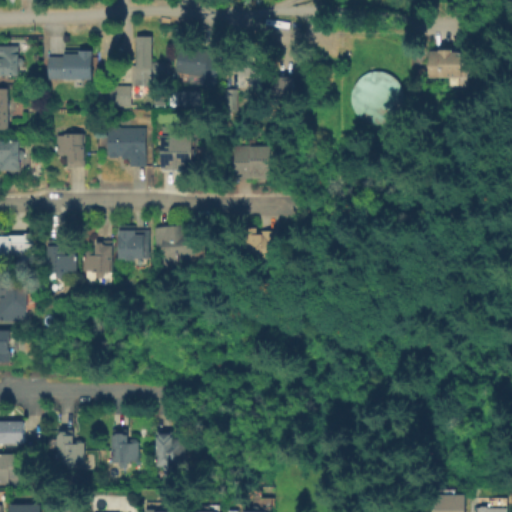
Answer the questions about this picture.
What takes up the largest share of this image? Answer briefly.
trees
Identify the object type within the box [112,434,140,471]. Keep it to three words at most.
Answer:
house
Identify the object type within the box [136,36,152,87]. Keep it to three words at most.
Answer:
house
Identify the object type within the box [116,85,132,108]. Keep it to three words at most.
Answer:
building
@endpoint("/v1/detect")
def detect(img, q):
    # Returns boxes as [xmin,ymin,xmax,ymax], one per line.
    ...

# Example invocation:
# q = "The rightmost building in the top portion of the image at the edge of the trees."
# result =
[428,50,462,78]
